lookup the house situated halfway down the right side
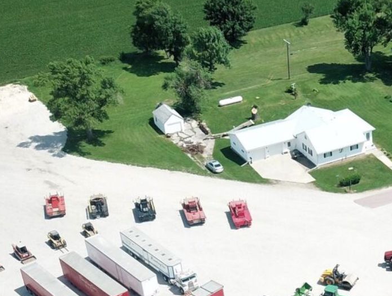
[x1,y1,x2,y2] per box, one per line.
[224,100,379,168]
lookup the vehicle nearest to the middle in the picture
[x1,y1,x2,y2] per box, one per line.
[202,160,228,173]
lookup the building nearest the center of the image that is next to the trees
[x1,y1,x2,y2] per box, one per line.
[152,103,183,135]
